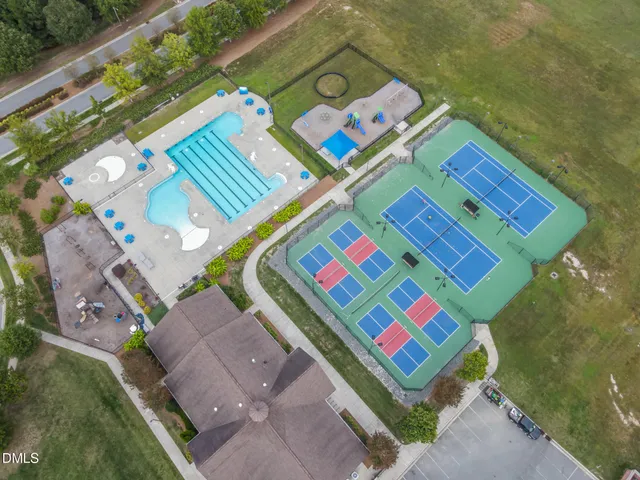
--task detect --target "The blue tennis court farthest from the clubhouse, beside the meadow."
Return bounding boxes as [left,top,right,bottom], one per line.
[439,140,558,238]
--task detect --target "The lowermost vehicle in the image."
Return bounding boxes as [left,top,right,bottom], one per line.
[504,410,542,444]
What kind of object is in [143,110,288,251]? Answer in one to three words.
swimming pool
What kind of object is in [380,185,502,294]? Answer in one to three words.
tennis court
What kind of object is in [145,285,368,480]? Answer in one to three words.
building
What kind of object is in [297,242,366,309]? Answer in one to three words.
sports court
